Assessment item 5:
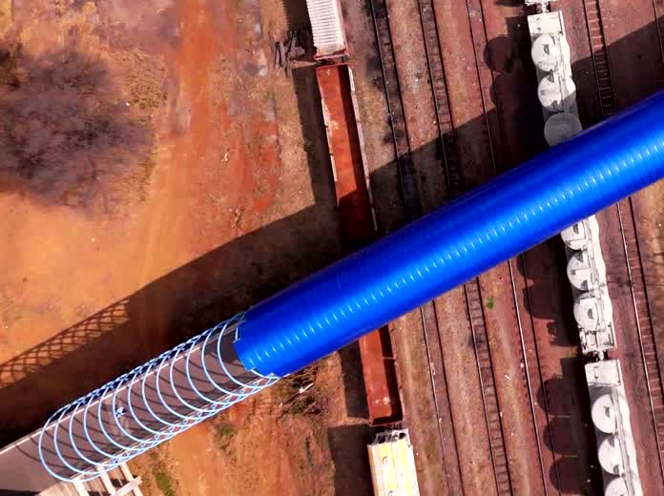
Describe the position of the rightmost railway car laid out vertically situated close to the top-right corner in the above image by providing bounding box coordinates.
[528,5,583,150]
